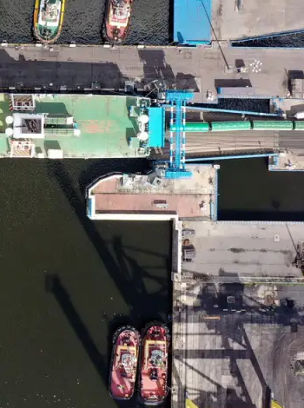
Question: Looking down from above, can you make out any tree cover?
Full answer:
No, there is no tree cover in the image.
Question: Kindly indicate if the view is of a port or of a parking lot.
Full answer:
This image shows a port.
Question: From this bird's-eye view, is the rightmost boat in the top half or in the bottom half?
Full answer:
The rightmost boat sits in the bottom half of the picture.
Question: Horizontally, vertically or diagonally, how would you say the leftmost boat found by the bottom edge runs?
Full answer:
From this overhead view, the leftmost boat found by the bottom edge appears to run vertically.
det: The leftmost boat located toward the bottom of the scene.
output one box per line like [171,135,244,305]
[107,321,140,400]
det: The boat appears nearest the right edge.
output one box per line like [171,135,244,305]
[138,317,169,406]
